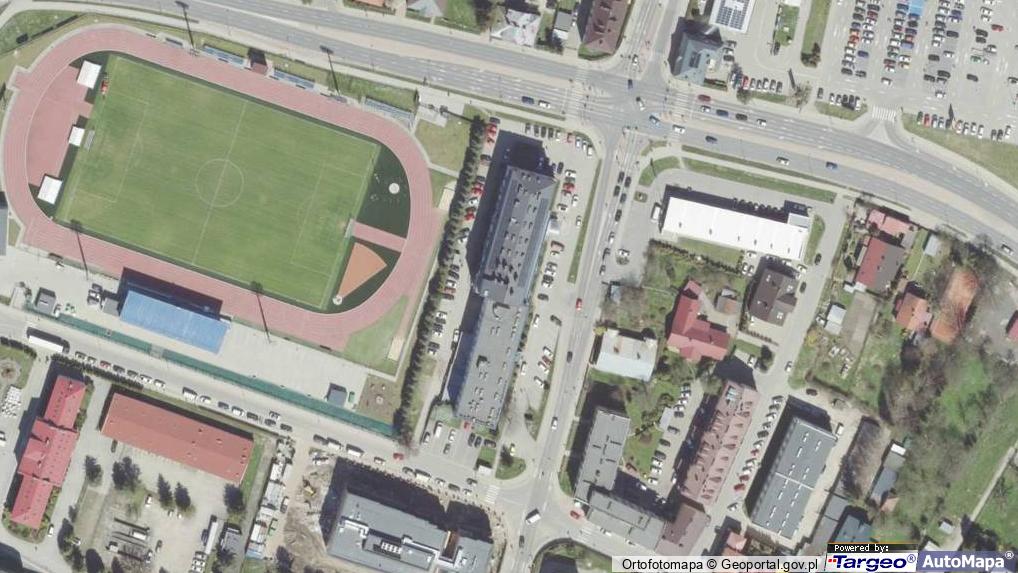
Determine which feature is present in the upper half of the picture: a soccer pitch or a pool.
soccer pitch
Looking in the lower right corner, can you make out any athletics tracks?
No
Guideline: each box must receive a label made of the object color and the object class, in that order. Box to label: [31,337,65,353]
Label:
white vehicle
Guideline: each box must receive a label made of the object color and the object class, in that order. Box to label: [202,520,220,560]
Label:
white vehicle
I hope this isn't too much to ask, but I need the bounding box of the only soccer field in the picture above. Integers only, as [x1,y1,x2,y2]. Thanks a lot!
[54,54,381,310]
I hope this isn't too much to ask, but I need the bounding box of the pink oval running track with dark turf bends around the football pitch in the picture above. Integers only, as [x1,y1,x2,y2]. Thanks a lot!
[2,30,455,357]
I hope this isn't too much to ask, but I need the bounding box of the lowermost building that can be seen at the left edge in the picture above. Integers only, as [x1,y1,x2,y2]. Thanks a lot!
[10,475,53,528]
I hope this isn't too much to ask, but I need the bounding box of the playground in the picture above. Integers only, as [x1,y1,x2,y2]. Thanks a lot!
[358,375,401,424]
